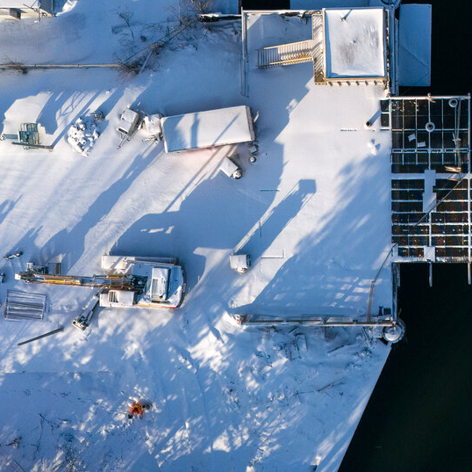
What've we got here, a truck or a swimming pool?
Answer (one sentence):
I can see a truck in this picture.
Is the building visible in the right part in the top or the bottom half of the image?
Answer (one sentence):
Seen from above, the building visible in the right part lies in the top half of the view.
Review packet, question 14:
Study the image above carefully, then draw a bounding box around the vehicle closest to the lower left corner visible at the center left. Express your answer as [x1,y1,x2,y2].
[13,255,192,310]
